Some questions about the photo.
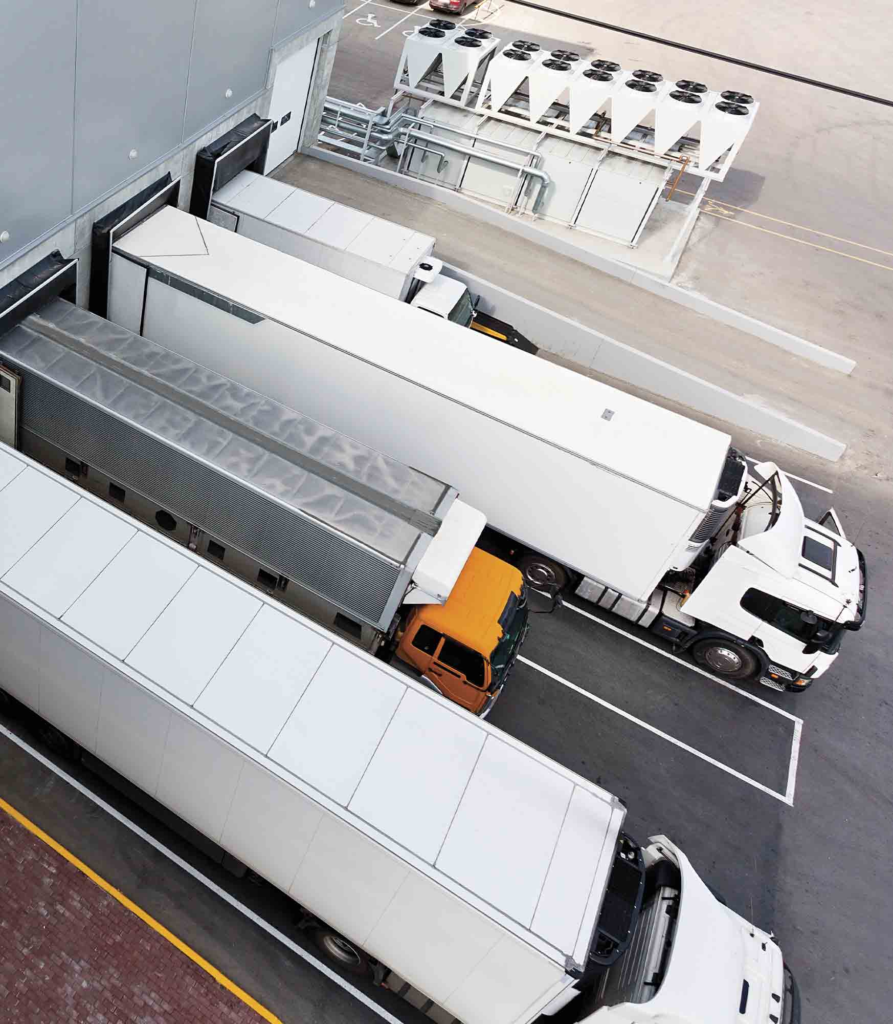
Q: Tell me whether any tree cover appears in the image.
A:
No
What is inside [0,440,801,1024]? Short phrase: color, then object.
white truck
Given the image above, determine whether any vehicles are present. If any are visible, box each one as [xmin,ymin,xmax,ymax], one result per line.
[0,440,801,1024]
[106,206,862,697]
[207,170,487,329]
[431,0,483,16]
[0,297,557,720]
